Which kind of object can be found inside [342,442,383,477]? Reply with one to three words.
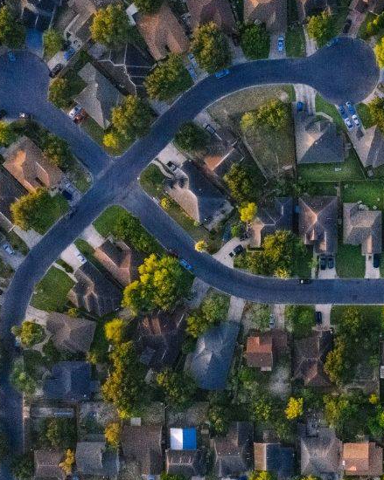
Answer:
house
